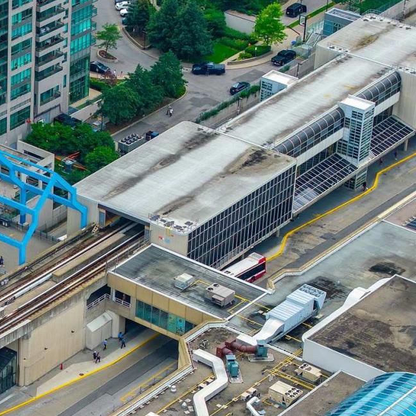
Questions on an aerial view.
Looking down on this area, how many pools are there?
none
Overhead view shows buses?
Yes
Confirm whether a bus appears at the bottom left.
No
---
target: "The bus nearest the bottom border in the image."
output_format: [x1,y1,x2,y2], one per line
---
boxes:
[226,245,273,282]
